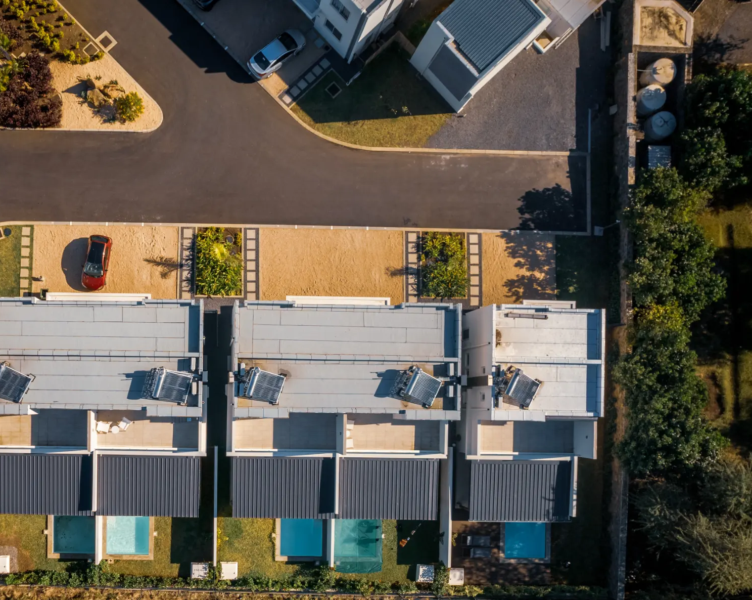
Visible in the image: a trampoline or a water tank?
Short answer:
water tank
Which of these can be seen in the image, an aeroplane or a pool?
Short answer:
pool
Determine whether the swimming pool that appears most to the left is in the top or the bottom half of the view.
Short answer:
bottom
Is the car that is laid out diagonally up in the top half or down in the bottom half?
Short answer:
top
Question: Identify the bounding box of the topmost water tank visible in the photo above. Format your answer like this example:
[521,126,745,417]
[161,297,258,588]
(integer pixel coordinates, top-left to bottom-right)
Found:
[641,60,674,89]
